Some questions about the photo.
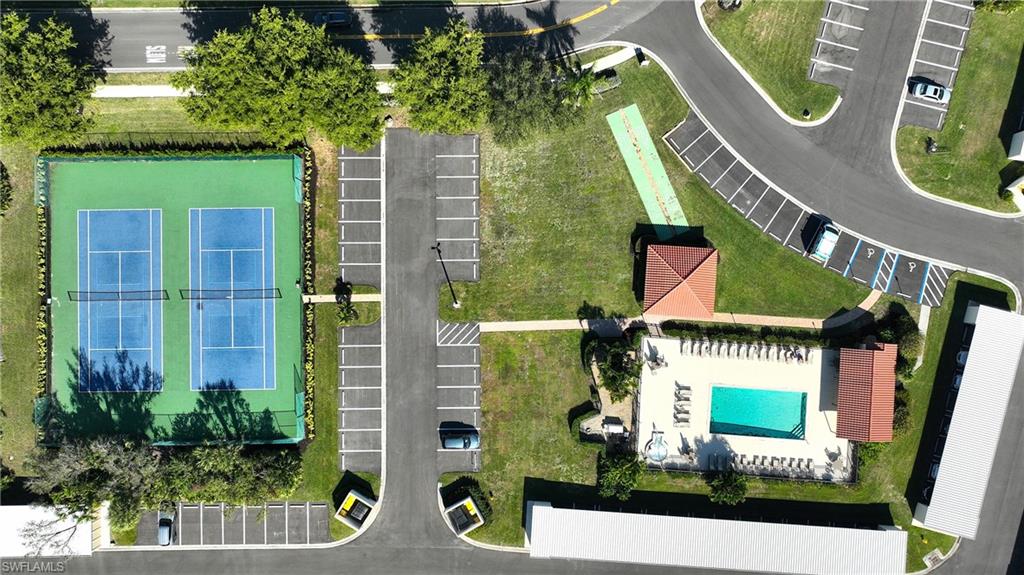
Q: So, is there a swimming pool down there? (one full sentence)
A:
Yes, there's a swimming pool here.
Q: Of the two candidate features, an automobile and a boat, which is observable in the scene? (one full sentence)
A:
There is an automobile in the scene.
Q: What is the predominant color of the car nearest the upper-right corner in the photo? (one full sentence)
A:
From above, the car nearest the upper-right corner appears white.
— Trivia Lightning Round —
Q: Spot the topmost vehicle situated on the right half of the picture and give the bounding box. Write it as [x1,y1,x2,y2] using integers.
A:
[911,82,951,103]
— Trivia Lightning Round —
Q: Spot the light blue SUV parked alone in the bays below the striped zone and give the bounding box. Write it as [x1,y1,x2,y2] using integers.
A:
[443,433,479,451]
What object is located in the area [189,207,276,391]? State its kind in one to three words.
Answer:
tennis court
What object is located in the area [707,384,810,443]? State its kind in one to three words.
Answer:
swimming pool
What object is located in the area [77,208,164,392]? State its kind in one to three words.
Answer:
tennis court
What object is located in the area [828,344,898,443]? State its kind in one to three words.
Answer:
building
